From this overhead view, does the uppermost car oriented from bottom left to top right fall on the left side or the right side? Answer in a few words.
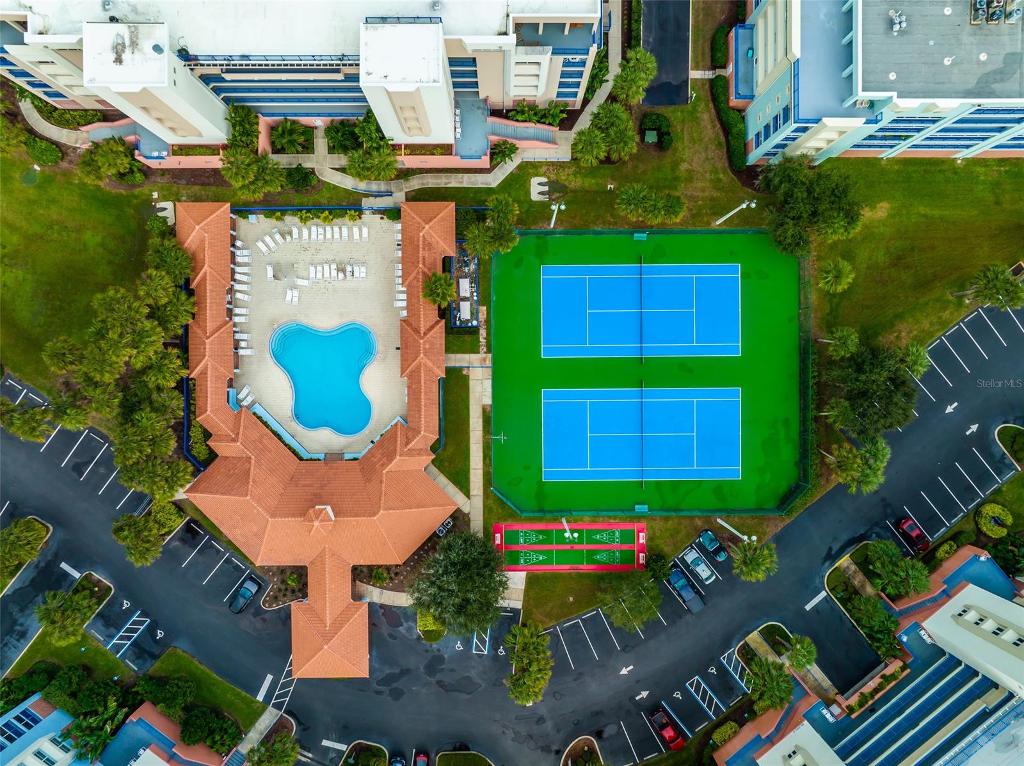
left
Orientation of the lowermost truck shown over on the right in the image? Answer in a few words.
on a diagonal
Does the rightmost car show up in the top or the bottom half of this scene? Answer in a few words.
bottom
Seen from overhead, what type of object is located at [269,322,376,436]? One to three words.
swimming pool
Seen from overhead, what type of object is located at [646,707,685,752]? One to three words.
truck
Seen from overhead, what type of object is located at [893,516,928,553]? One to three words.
car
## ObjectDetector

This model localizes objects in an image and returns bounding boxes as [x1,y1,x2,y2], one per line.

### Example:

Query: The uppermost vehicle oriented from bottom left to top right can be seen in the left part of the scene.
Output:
[228,576,263,616]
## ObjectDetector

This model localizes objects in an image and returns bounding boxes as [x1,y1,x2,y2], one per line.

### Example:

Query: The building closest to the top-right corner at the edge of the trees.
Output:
[727,0,1024,166]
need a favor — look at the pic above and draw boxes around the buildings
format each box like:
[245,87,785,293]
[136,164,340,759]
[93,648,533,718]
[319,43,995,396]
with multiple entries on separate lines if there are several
[175,201,457,679]
[0,693,250,766]
[0,0,604,165]
[727,0,1024,166]
[709,545,1024,766]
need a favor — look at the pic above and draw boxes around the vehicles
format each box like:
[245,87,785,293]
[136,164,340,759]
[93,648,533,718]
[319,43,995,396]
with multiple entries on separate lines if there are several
[411,749,430,766]
[893,516,928,553]
[390,752,407,766]
[665,567,707,615]
[228,576,263,616]
[682,546,719,587]
[697,526,730,565]
[646,707,685,752]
